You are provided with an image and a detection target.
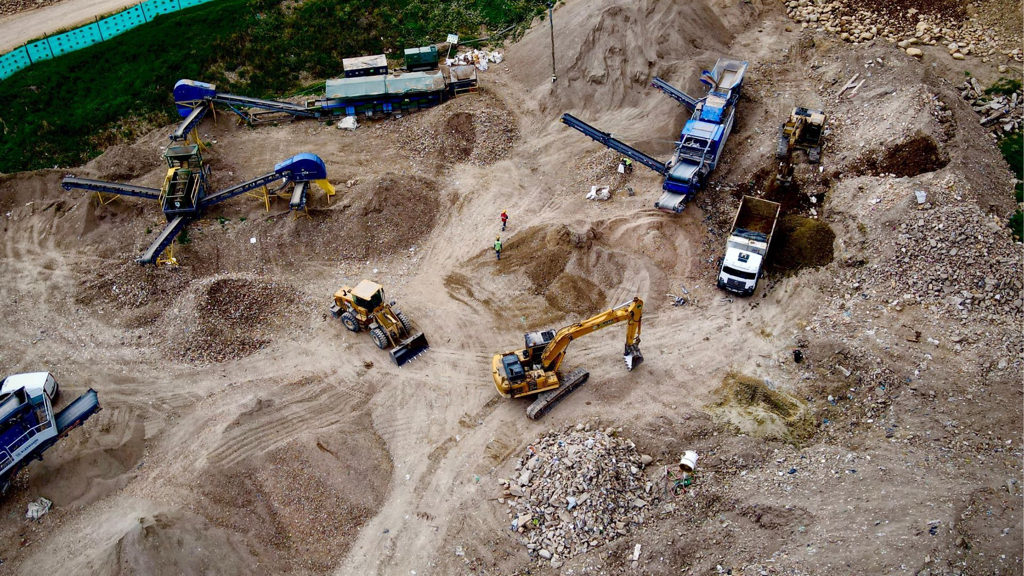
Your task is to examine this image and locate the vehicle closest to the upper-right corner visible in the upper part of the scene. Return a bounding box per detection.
[779,112,831,186]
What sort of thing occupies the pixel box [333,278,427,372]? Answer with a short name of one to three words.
work vehicle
